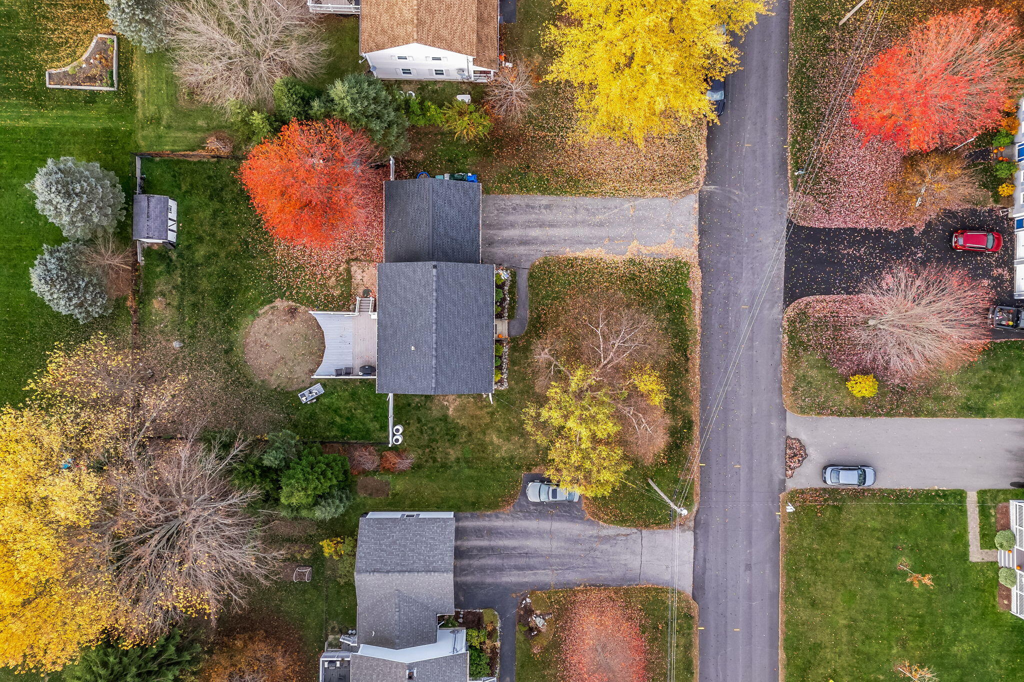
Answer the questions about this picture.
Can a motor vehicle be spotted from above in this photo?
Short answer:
Yes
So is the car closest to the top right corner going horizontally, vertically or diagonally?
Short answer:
horizontally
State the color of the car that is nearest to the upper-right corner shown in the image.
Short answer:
red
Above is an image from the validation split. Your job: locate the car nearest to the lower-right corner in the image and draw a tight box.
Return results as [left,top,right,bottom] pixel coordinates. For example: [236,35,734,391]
[820,463,875,488]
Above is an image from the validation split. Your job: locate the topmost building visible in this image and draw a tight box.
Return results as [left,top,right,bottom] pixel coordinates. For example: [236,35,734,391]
[352,0,501,83]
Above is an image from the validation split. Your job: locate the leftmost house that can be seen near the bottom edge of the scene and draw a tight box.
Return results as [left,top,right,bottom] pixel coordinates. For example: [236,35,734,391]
[349,512,470,682]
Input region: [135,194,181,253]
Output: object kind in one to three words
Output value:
shed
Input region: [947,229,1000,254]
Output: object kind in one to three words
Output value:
car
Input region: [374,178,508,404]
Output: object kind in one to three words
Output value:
house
